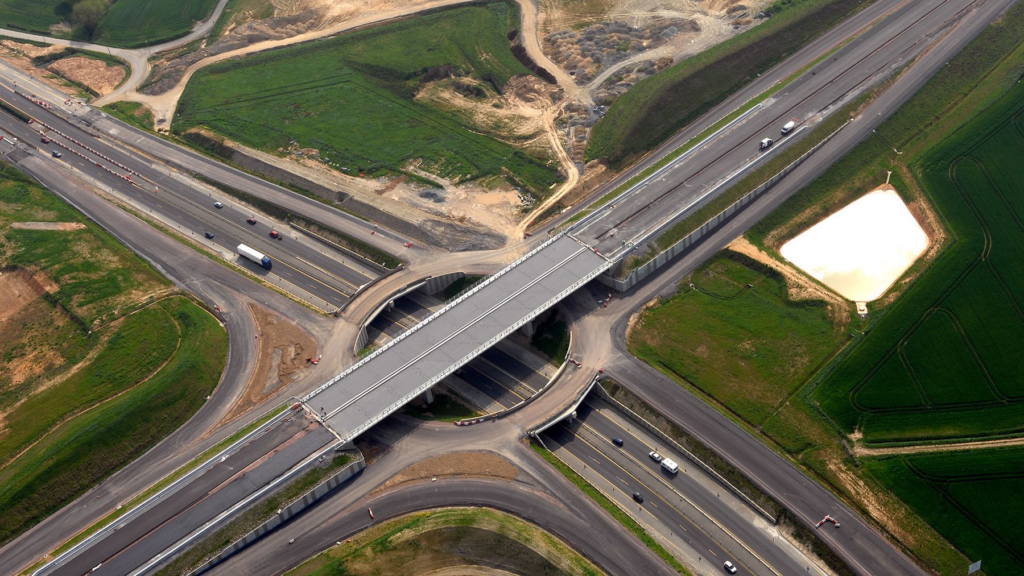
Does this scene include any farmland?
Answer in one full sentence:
Yes, there is farmland in the image.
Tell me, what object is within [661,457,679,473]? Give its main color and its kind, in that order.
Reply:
white camper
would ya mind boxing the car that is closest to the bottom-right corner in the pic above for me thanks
[723,560,737,573]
